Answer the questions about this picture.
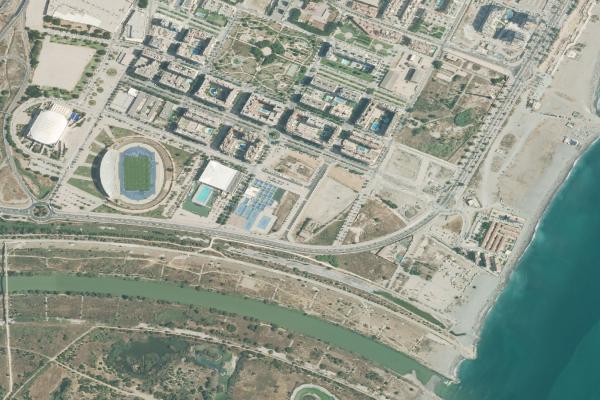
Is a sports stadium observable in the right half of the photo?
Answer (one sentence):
No, in the right half of the photo there is no sports stadium.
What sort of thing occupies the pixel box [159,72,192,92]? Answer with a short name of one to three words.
building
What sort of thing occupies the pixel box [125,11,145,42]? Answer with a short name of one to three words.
building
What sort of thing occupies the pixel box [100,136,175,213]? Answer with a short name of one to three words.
stadium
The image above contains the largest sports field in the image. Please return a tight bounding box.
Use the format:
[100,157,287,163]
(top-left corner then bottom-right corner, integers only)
[125,155,150,191]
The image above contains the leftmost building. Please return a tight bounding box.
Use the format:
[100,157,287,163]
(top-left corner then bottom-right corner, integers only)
[54,6,103,25]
